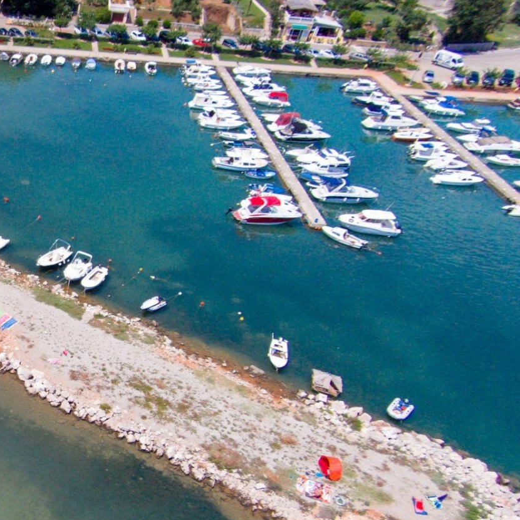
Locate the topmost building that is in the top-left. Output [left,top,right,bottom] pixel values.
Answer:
[111,0,139,28]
